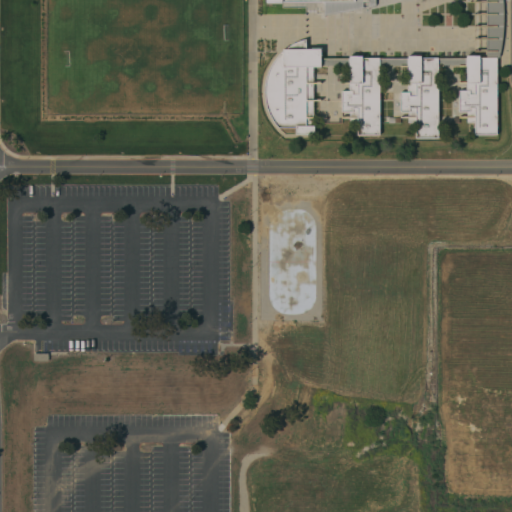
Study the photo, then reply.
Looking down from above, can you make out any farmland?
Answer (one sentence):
Yes, some farmland is visible.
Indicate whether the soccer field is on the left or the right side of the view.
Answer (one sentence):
The soccer field is on the left side of the image.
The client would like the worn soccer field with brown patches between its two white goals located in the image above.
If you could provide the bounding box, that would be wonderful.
[48,0,243,113]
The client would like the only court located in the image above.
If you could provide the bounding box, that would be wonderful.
[270,209,316,314]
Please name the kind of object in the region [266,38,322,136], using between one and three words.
building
